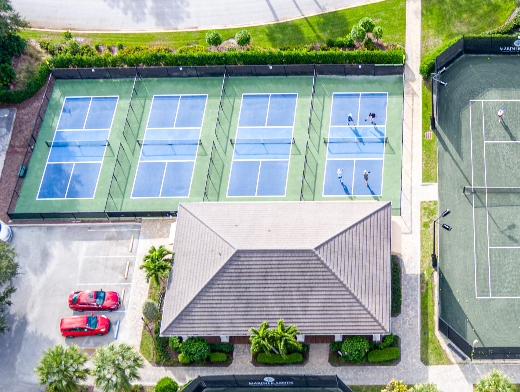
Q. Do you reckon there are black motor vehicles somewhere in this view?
No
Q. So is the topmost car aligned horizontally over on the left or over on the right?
left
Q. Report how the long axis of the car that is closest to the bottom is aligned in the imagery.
horizontally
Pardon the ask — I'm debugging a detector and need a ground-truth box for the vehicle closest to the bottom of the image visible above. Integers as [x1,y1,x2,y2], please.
[58,313,108,339]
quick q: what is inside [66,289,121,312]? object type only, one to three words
car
